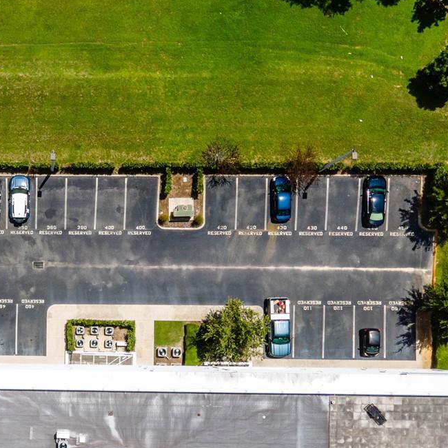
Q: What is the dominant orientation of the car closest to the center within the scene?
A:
up and down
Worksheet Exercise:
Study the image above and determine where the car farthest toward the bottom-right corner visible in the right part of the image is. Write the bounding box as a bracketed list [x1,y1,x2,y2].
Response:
[356,326,382,358]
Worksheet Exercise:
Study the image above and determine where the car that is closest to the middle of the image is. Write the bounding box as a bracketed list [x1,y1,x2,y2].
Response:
[267,172,295,227]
